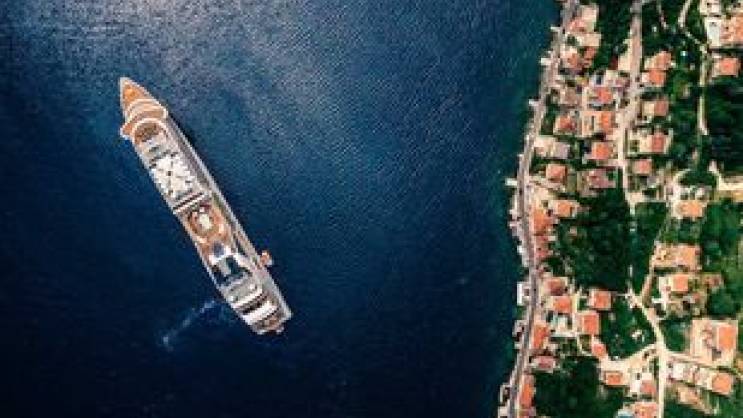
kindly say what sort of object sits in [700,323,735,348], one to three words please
house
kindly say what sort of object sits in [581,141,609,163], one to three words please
house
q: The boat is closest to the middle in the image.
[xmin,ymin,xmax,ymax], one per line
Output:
[260,249,272,265]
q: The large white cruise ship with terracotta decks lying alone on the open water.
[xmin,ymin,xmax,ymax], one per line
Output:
[119,78,295,340]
